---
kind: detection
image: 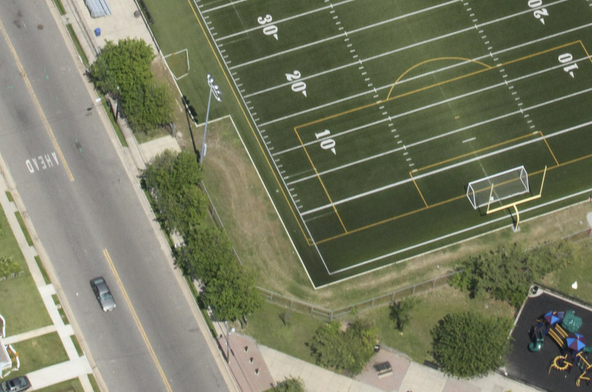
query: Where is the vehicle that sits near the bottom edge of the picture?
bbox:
[0,372,33,392]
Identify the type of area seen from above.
sports ground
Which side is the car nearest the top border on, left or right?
left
